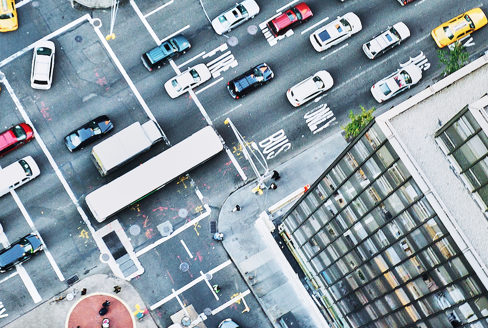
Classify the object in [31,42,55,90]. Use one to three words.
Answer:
car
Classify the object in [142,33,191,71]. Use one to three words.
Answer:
car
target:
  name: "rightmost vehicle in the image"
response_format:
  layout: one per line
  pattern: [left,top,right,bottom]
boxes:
[430,8,487,50]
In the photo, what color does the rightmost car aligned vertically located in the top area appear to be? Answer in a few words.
white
